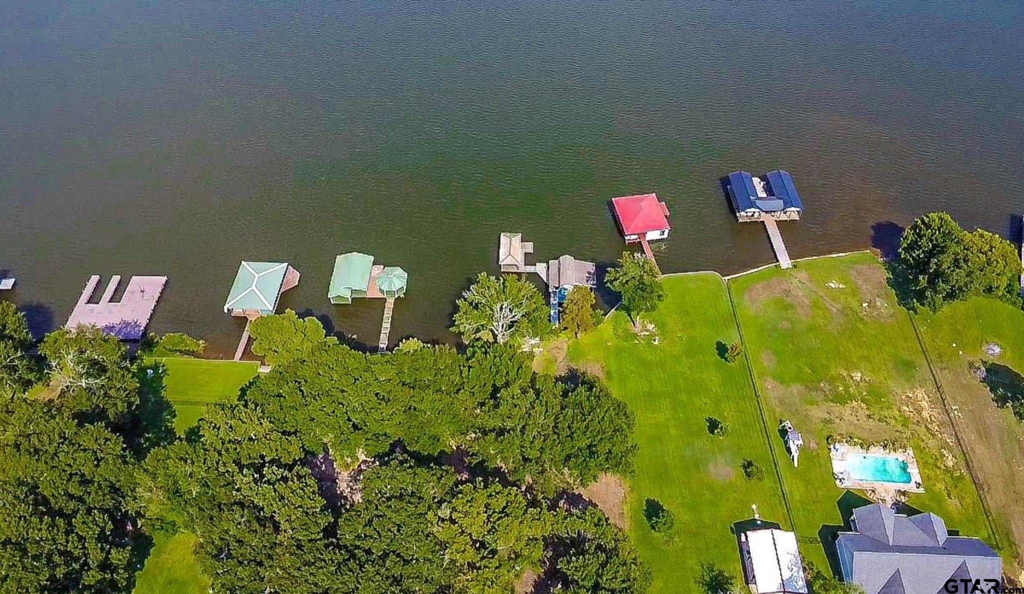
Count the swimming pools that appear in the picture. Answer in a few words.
1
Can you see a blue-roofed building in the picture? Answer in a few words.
Yes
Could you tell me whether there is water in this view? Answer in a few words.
Yes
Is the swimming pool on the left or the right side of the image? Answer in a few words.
right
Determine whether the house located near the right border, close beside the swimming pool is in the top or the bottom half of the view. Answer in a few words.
bottom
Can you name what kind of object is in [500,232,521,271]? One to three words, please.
building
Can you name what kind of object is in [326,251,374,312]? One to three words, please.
building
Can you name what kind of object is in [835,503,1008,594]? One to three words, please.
house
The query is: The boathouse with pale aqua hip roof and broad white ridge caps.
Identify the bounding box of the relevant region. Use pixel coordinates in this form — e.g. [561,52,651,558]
[225,260,288,321]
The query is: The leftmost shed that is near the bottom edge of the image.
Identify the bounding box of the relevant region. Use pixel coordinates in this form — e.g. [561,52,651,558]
[732,529,806,594]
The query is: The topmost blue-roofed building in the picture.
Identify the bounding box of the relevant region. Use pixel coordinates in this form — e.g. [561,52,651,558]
[723,170,803,226]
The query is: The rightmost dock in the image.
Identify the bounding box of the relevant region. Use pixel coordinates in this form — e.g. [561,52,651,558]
[763,218,791,268]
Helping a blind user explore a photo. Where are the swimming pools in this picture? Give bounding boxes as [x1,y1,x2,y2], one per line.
[830,444,924,492]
